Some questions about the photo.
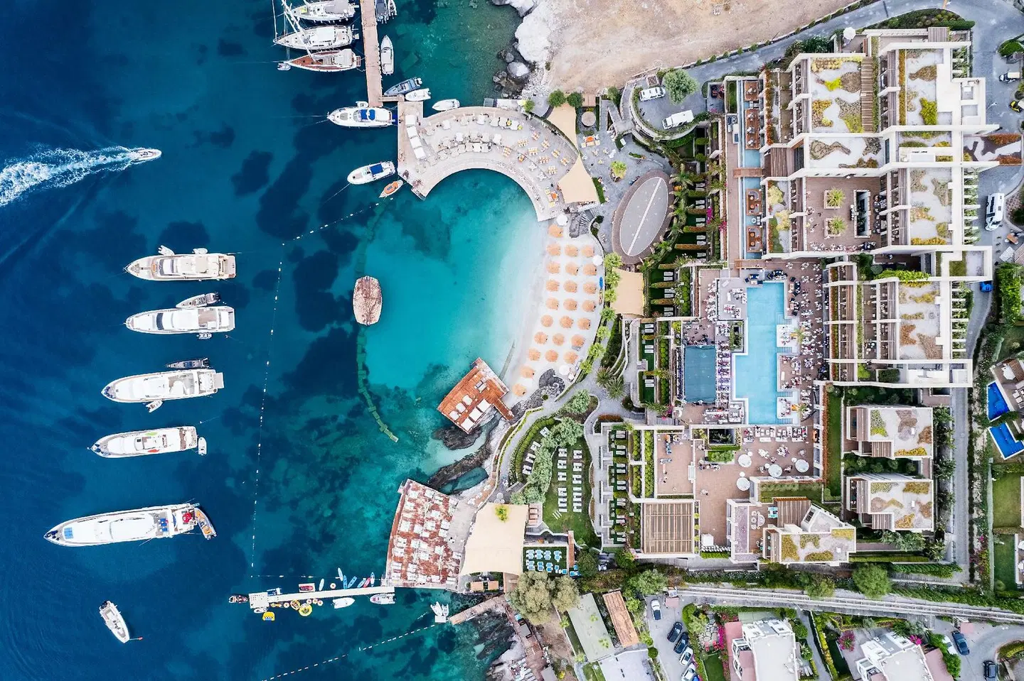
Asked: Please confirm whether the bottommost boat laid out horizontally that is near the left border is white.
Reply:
Yes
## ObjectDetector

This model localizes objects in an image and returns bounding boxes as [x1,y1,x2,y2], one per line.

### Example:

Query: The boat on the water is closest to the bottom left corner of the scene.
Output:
[97,599,129,643]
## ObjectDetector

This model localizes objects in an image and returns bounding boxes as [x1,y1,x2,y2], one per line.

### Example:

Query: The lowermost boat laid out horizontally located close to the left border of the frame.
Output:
[44,503,210,541]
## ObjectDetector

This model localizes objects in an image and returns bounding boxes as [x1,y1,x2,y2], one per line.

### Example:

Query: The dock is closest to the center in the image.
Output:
[437,357,513,434]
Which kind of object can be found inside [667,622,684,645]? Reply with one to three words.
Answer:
car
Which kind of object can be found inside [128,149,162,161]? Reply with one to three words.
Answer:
boat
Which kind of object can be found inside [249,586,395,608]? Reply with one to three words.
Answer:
pier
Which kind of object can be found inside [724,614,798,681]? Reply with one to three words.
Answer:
house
